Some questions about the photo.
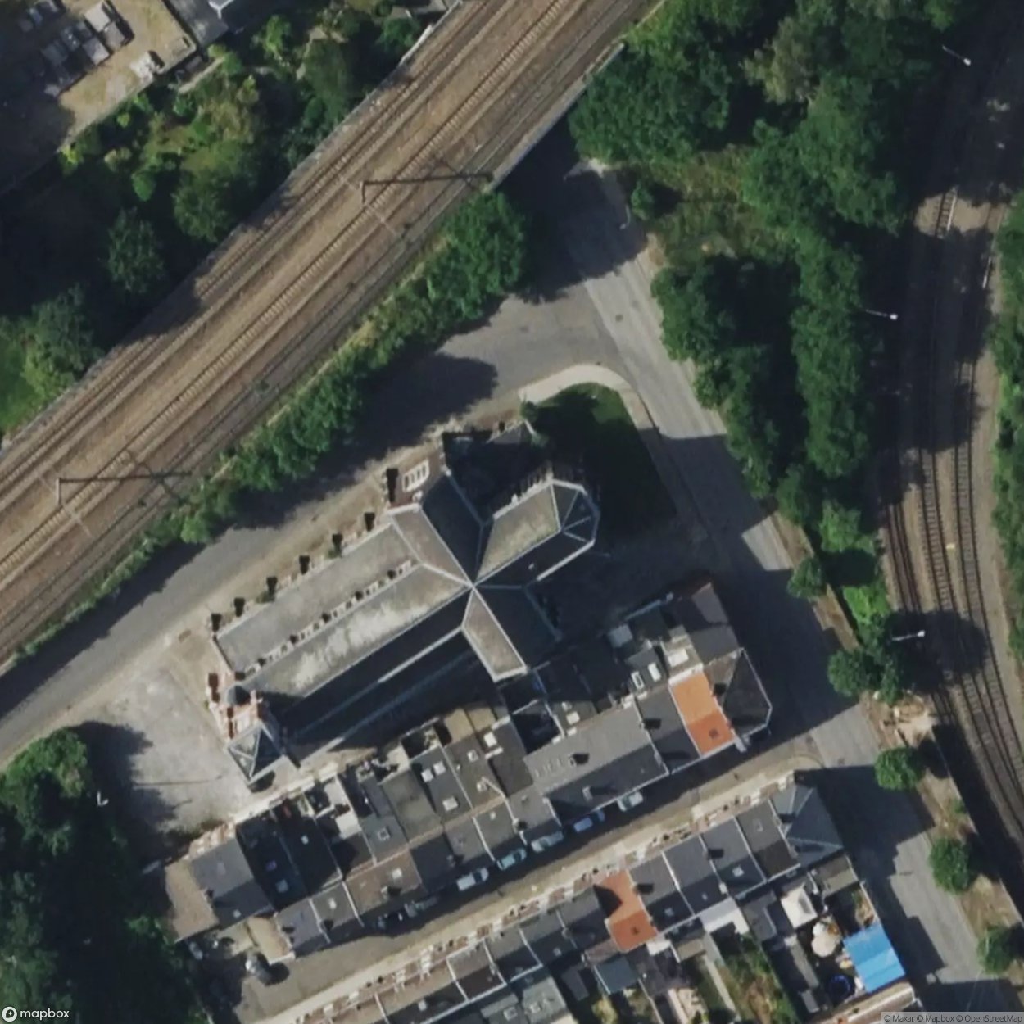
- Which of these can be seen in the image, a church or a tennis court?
church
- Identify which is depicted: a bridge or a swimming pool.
bridge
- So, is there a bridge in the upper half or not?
Yes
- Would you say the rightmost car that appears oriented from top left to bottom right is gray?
Yes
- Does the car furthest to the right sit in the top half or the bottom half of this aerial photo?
bottom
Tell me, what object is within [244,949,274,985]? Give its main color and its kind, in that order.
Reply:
gray car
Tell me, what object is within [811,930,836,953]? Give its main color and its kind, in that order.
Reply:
white umbrella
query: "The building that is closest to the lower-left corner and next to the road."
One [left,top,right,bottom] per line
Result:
[166,849,219,941]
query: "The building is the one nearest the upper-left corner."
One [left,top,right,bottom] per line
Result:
[175,0,227,43]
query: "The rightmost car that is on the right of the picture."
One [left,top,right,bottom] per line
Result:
[613,789,648,815]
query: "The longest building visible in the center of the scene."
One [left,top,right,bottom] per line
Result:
[206,410,604,783]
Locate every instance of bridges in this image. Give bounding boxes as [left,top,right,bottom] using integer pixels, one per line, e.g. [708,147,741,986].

[494,40,634,195]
